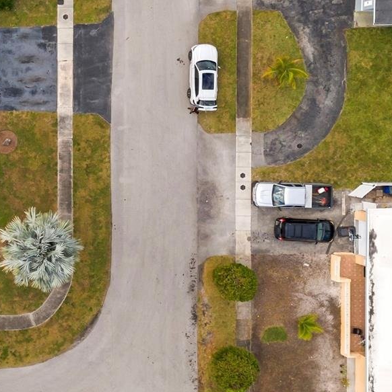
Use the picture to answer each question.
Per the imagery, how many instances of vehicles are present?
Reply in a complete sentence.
In total, 3 vehicles can be seen.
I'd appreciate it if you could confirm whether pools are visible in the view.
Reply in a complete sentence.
No, I find no pool anywhere in the image.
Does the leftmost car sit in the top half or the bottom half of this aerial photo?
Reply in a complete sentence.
The leftmost car is in the top half of the image.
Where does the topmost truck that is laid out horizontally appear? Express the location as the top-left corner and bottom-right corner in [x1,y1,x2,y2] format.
[253,181,334,211]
